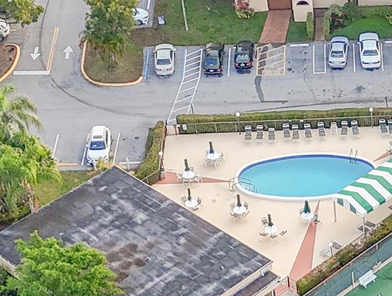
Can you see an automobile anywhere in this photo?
Yes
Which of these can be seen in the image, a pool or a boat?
pool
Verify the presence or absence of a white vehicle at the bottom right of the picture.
No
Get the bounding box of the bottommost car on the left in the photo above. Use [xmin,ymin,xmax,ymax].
[84,124,112,161]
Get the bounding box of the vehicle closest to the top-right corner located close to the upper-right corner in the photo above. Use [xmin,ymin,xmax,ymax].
[357,36,381,68]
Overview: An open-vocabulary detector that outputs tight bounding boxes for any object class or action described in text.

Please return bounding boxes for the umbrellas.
[235,193,243,209]
[209,141,216,156]
[267,214,274,229]
[302,199,311,215]
[184,159,191,174]
[186,187,195,208]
